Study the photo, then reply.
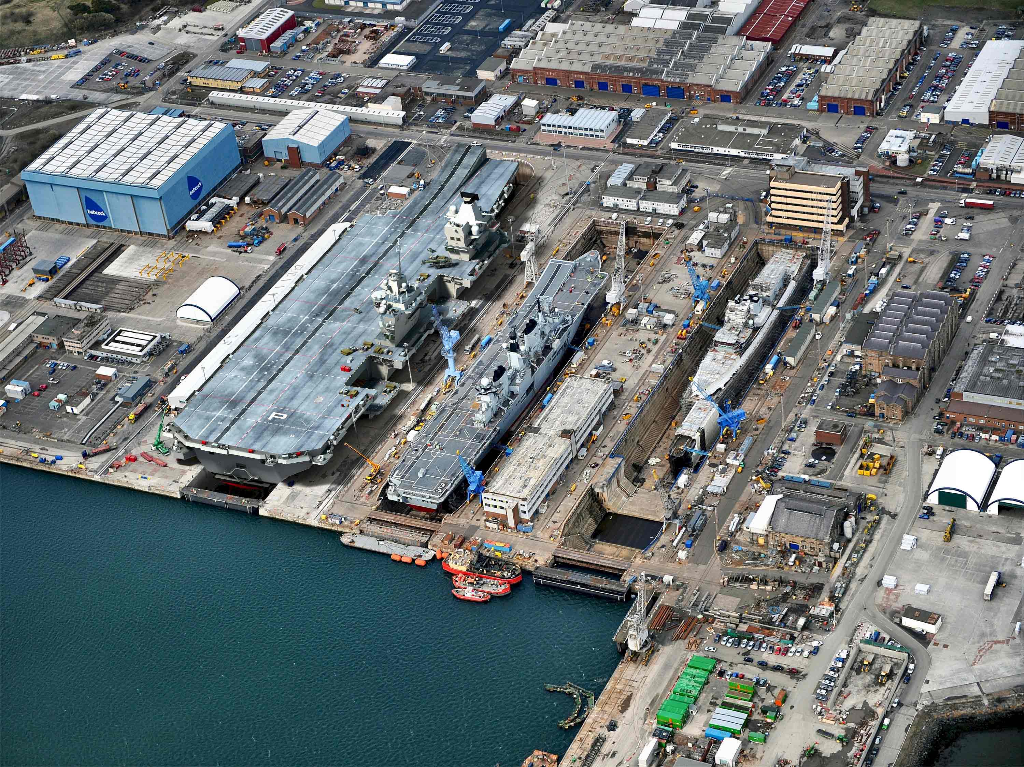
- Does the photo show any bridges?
Yes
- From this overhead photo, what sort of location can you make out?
port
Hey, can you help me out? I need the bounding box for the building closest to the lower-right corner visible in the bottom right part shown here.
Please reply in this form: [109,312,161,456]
[902,604,941,629]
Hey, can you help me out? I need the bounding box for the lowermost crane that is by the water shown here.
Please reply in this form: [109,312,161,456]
[620,570,649,670]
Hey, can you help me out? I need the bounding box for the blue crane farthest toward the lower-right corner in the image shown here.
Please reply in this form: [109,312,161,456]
[689,377,740,443]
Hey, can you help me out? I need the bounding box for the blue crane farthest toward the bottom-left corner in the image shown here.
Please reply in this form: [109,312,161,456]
[456,450,484,508]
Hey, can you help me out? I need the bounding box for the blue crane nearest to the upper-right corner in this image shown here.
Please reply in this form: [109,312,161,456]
[684,252,710,309]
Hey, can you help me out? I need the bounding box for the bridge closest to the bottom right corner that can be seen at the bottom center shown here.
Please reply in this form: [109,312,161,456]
[548,542,646,586]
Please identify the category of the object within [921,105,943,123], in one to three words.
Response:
shed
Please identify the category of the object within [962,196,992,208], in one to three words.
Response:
vehicle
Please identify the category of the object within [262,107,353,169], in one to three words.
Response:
hangar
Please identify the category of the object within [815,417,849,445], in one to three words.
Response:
building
